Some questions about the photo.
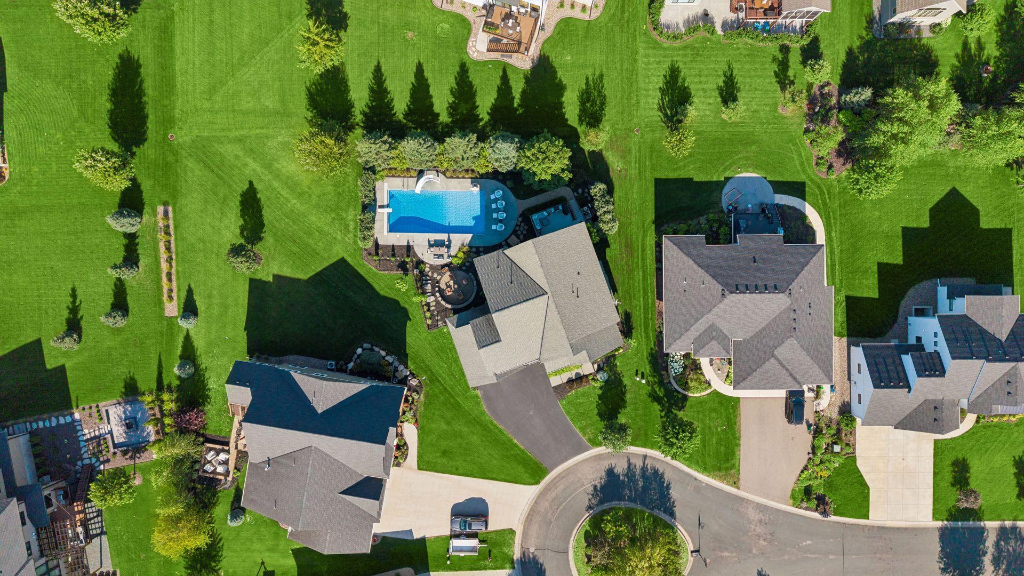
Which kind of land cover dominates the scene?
grass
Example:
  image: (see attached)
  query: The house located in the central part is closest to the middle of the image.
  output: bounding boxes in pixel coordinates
[446,221,623,388]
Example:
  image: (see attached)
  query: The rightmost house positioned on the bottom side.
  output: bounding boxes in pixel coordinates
[849,284,1024,435]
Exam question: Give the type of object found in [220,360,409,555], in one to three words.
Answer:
house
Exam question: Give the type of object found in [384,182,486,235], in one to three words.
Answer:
swimming pool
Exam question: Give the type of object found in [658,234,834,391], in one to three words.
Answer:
house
